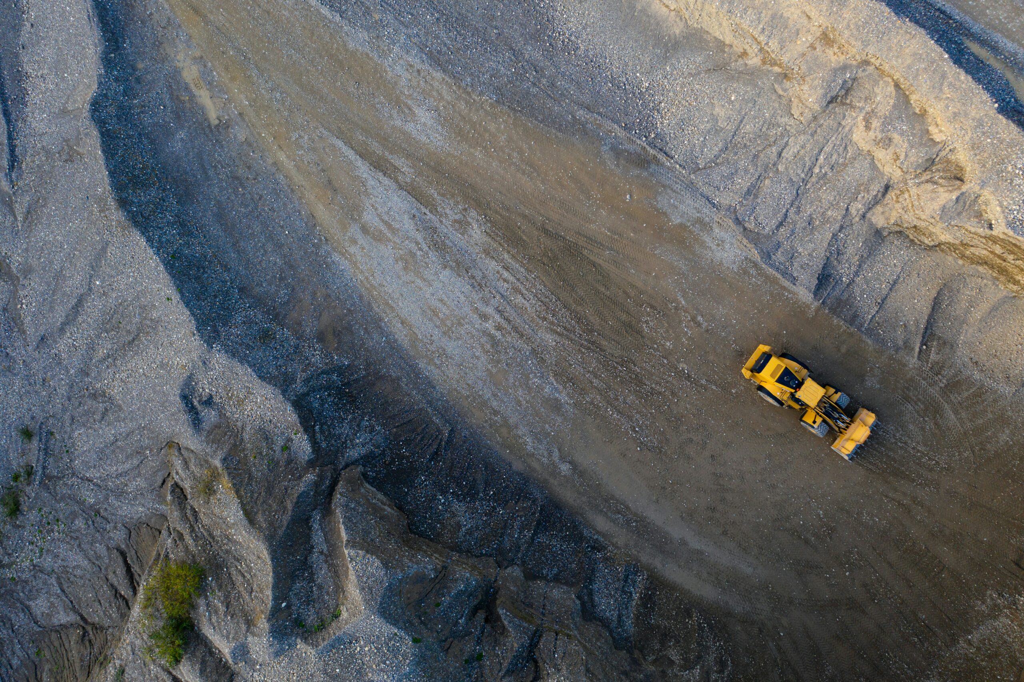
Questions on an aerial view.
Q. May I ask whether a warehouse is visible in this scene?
No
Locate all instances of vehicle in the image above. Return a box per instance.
[738,345,880,462]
